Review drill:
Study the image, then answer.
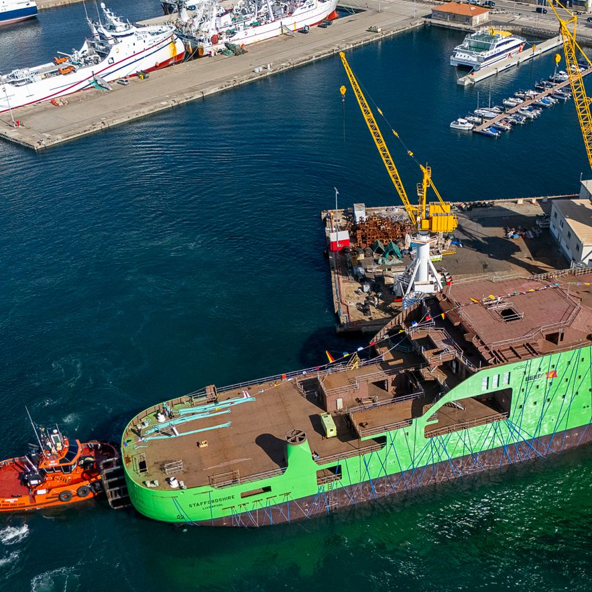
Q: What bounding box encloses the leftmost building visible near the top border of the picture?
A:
[431,0,496,26]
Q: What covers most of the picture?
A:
water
